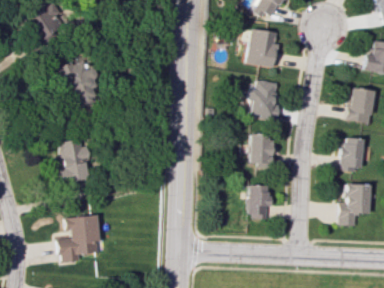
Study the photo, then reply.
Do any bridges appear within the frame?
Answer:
No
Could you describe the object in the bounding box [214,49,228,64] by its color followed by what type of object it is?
blue swimming pool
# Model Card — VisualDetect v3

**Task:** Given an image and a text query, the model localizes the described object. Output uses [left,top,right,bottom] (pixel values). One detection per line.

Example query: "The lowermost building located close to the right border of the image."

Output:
[338,184,374,226]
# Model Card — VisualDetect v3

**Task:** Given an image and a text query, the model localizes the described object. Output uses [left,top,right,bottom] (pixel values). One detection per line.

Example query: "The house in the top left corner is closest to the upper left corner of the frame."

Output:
[35,2,64,44]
